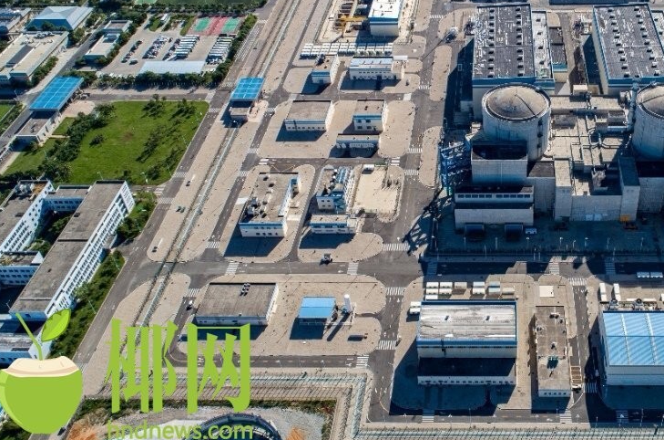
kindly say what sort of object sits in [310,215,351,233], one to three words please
building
